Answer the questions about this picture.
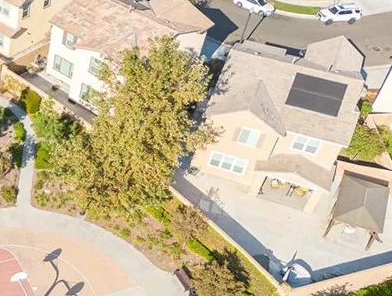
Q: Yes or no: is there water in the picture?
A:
No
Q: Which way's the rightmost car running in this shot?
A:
from left to right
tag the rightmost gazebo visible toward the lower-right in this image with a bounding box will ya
[324,177,390,254]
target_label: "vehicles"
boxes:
[235,0,276,16]
[320,2,366,25]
